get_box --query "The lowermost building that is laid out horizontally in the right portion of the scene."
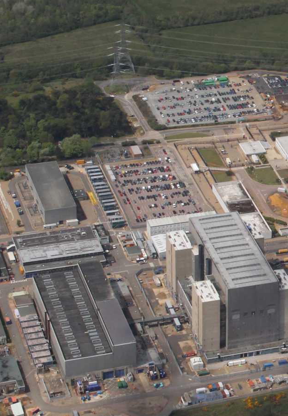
[190,390,224,407]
